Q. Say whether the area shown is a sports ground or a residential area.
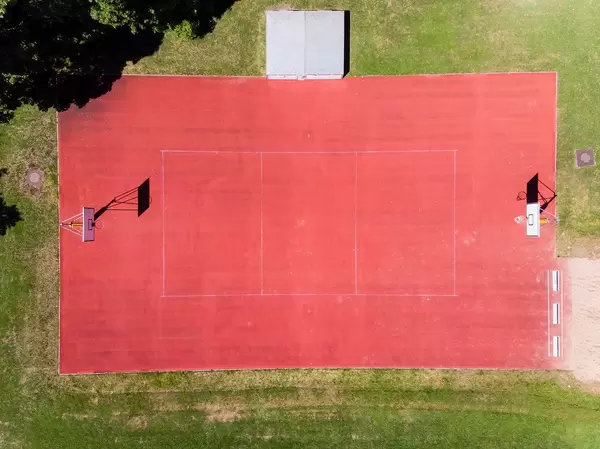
sports ground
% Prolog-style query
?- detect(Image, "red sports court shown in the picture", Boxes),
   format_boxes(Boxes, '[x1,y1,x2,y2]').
[56,71,574,376]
